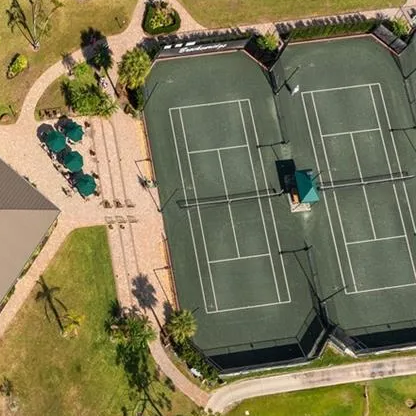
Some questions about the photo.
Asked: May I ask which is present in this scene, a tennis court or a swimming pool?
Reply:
tennis court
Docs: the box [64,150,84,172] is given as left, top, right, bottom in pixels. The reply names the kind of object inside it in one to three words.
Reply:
umbrella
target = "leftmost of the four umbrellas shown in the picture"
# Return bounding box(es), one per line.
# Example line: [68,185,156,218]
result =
[46,130,66,153]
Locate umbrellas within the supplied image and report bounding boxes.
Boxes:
[76,173,96,196]
[64,150,84,172]
[65,121,85,144]
[46,130,66,153]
